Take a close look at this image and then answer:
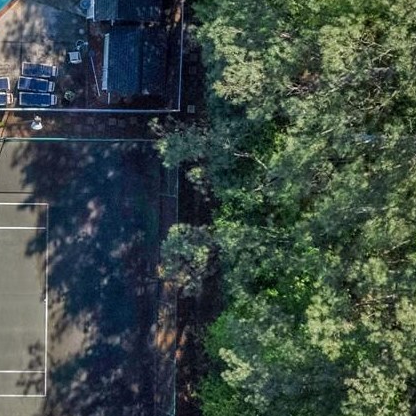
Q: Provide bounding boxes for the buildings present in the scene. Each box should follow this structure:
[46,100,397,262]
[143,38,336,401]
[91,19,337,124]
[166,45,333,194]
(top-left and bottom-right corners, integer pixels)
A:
[102,31,165,101]
[86,0,158,26]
